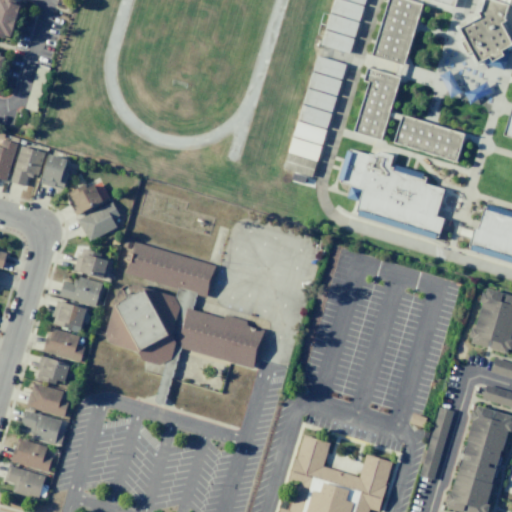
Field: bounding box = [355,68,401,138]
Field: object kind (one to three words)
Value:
building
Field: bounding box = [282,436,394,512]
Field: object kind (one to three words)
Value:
building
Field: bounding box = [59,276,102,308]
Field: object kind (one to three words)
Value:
house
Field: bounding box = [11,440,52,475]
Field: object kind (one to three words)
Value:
house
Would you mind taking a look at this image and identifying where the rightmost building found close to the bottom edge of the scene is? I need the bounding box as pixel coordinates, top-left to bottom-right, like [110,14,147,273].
[445,408,512,512]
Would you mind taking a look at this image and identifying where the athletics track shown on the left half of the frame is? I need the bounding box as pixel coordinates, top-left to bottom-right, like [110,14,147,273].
[104,0,289,162]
